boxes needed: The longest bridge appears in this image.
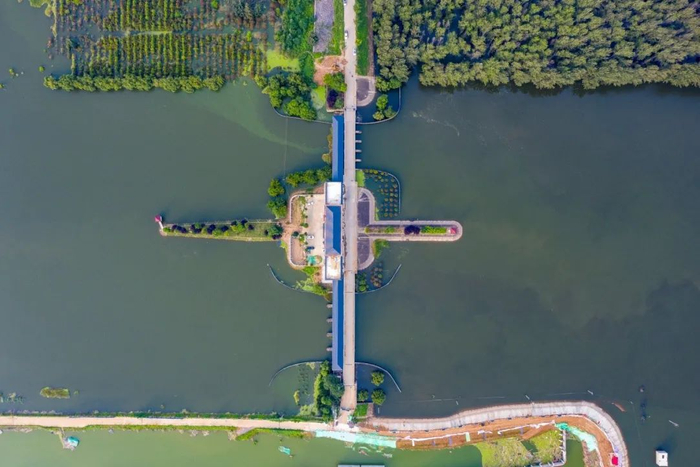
[327,112,361,387]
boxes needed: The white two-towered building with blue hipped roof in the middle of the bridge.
[323,180,344,282]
